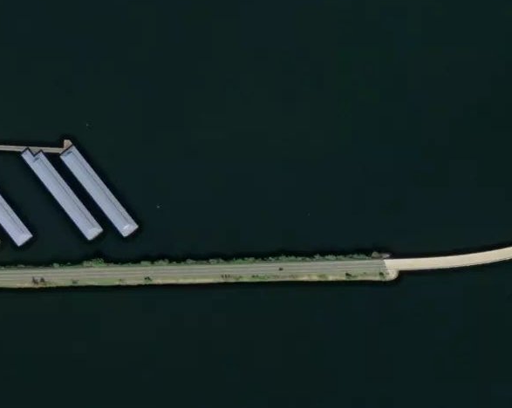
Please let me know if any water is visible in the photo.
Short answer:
Yes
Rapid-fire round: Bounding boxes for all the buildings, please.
[24,149,103,241]
[0,195,33,246]
[60,145,139,237]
